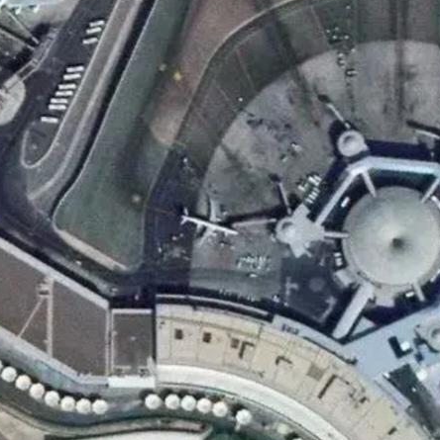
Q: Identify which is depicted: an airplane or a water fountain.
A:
airplane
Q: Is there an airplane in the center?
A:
Yes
